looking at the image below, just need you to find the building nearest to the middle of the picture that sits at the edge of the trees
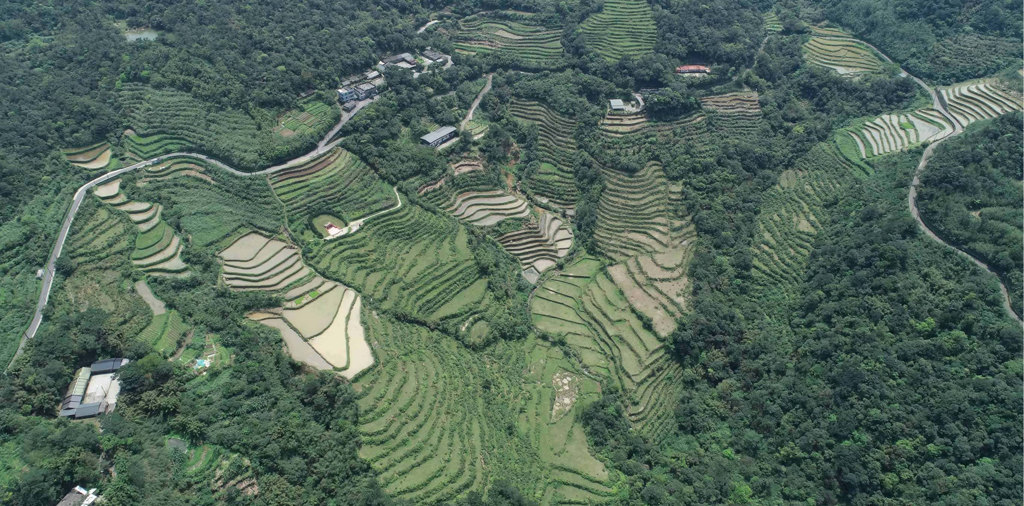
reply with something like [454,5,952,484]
[419,124,456,148]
